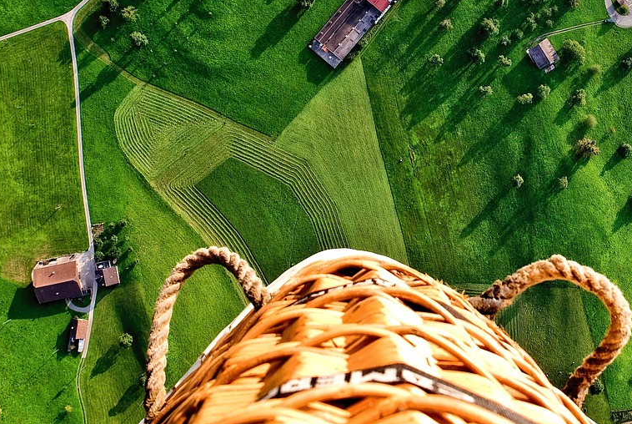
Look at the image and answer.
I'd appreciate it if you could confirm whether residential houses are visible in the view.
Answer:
Yes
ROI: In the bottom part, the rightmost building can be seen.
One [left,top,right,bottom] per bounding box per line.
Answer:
[97,265,122,287]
